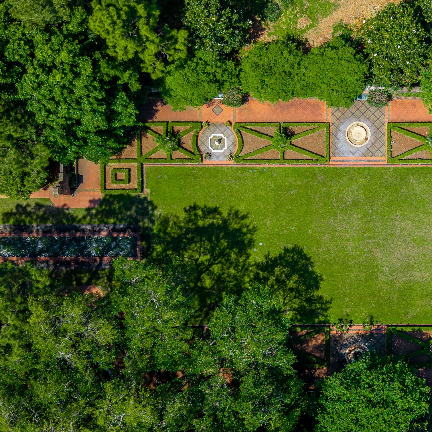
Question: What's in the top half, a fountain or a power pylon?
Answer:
fountain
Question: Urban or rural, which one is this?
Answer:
rural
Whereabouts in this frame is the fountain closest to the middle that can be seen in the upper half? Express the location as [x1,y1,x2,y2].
[208,134,228,152]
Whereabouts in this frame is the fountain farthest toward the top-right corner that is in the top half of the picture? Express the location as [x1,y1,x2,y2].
[345,121,371,147]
